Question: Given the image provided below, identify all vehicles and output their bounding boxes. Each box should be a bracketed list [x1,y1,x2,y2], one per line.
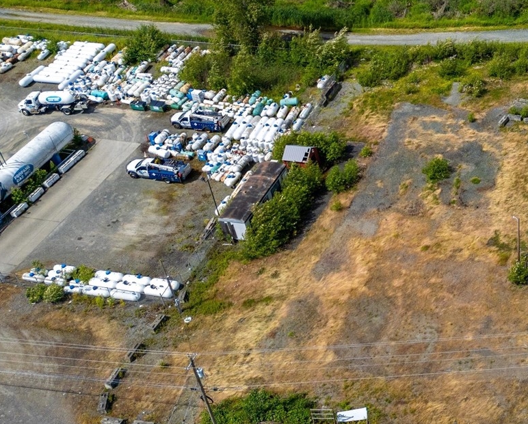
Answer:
[120,154,195,179]
[165,104,232,127]
[12,88,89,114]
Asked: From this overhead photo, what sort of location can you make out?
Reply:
industrial area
